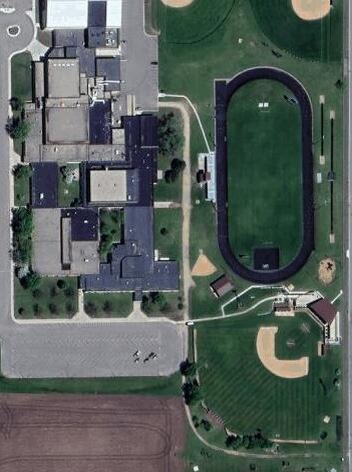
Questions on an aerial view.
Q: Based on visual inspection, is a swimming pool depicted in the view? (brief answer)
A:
No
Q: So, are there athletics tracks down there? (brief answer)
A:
Yes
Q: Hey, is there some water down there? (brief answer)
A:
No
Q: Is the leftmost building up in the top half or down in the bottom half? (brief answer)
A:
top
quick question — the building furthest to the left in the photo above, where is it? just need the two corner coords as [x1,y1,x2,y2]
[24,0,179,302]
